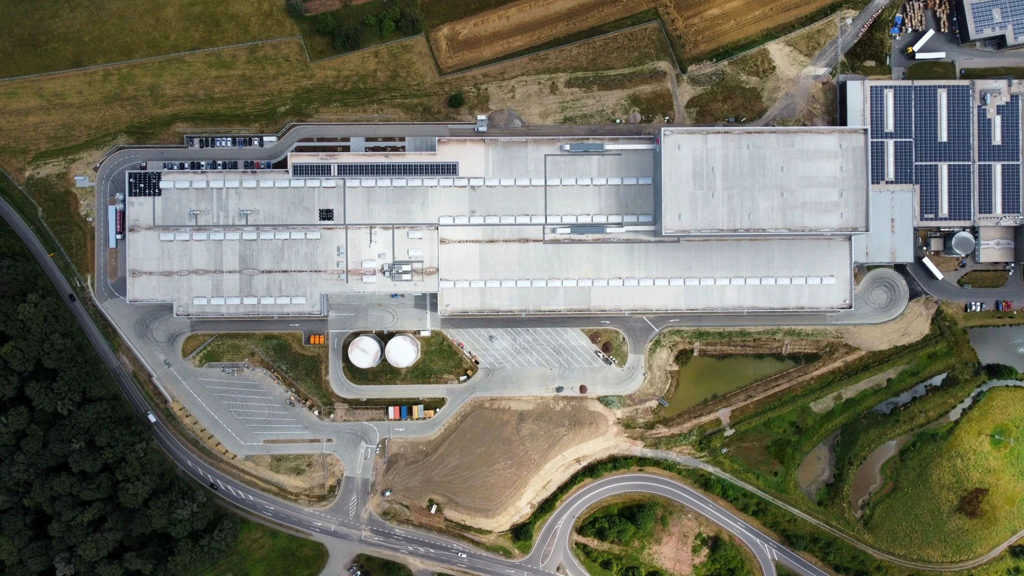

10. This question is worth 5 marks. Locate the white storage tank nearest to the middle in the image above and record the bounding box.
[385,333,420,368]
